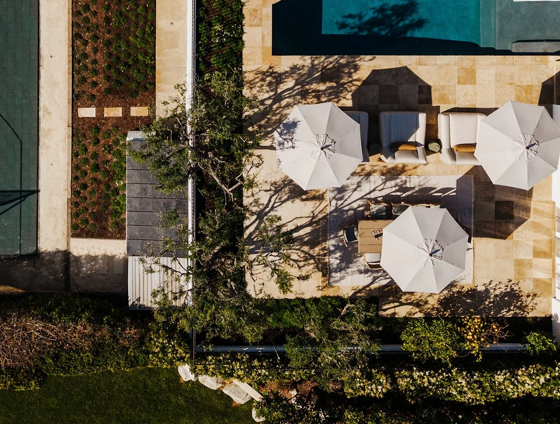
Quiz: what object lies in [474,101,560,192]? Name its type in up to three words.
umbrella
